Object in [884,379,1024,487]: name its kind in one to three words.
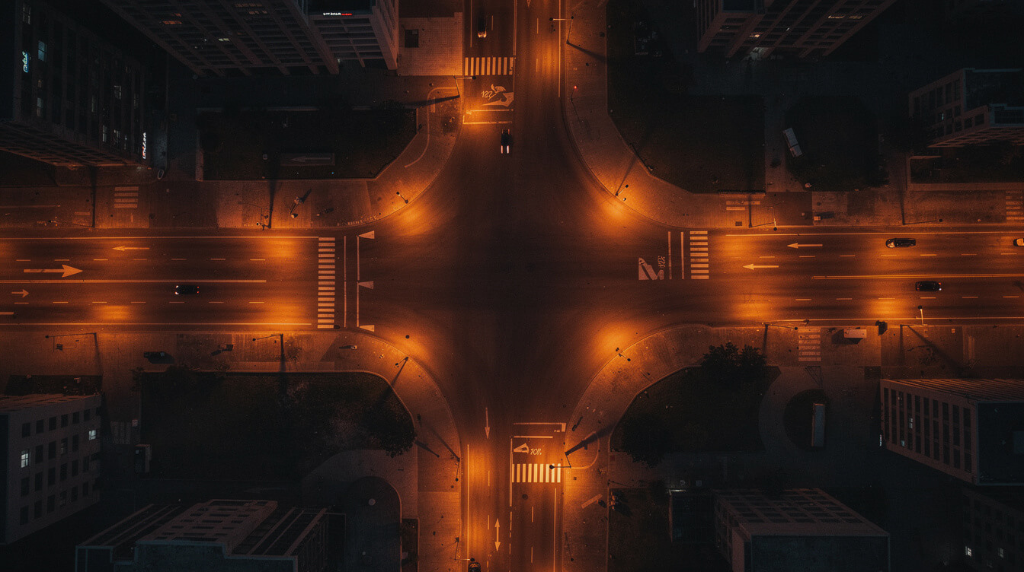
building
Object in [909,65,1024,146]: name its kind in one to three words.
building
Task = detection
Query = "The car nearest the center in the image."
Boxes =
[499,127,511,154]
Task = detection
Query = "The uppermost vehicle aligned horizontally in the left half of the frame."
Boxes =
[173,284,198,296]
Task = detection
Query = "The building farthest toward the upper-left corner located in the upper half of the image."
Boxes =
[0,0,144,165]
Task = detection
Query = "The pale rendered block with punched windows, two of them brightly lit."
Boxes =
[0,396,100,550]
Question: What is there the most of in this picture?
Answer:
paved ground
